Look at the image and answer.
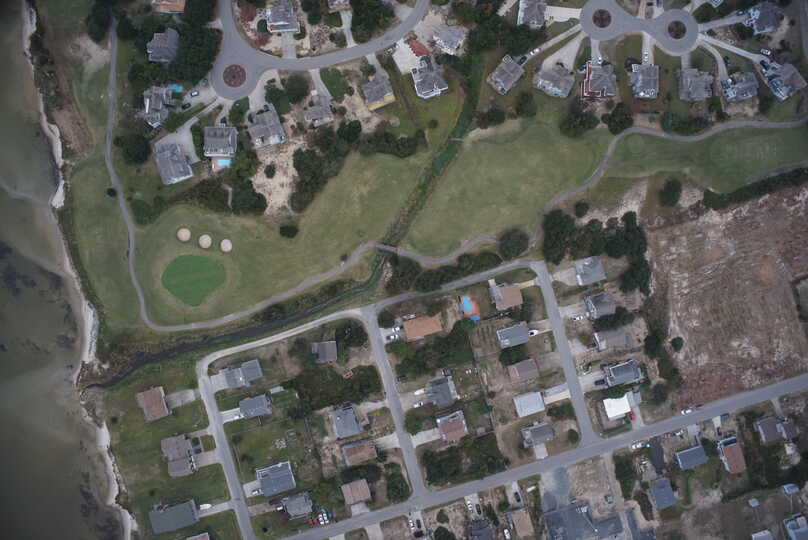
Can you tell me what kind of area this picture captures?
residential area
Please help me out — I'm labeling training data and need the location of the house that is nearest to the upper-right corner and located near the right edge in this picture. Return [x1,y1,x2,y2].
[744,2,784,39]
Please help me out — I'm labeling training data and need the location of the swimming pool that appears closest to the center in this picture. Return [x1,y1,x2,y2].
[462,295,480,317]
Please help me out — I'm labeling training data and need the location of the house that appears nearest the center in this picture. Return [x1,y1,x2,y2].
[404,313,442,339]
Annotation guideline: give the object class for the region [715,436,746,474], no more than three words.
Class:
house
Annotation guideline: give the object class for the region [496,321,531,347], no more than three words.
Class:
house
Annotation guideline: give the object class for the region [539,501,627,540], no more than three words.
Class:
building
